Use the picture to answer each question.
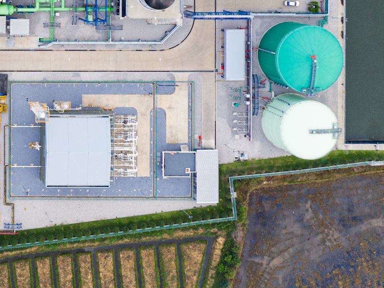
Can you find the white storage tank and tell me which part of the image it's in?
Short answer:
right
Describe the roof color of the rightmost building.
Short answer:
white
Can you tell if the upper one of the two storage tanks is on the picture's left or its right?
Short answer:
right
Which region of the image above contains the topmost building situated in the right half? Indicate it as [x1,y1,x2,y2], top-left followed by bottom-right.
[218,29,245,81]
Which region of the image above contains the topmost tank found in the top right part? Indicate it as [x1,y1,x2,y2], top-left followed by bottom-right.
[252,19,346,96]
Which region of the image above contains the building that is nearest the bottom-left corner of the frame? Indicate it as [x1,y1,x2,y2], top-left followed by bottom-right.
[41,112,111,187]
